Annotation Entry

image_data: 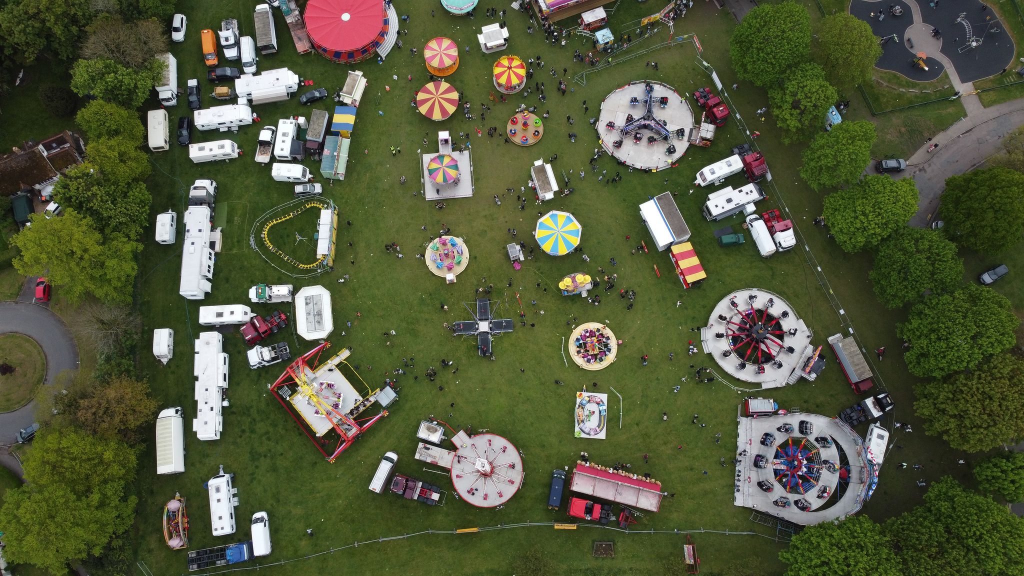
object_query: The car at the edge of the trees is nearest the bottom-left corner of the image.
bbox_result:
[11,421,46,447]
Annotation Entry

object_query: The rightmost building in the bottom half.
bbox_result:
[790,340,825,381]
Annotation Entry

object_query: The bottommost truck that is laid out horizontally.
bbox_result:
[189,538,259,573]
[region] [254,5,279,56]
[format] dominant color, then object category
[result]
gray truck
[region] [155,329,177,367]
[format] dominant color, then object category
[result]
white camper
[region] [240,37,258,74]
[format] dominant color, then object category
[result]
white vehicle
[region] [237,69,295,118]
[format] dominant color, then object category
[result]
white trailer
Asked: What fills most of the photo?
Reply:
grass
